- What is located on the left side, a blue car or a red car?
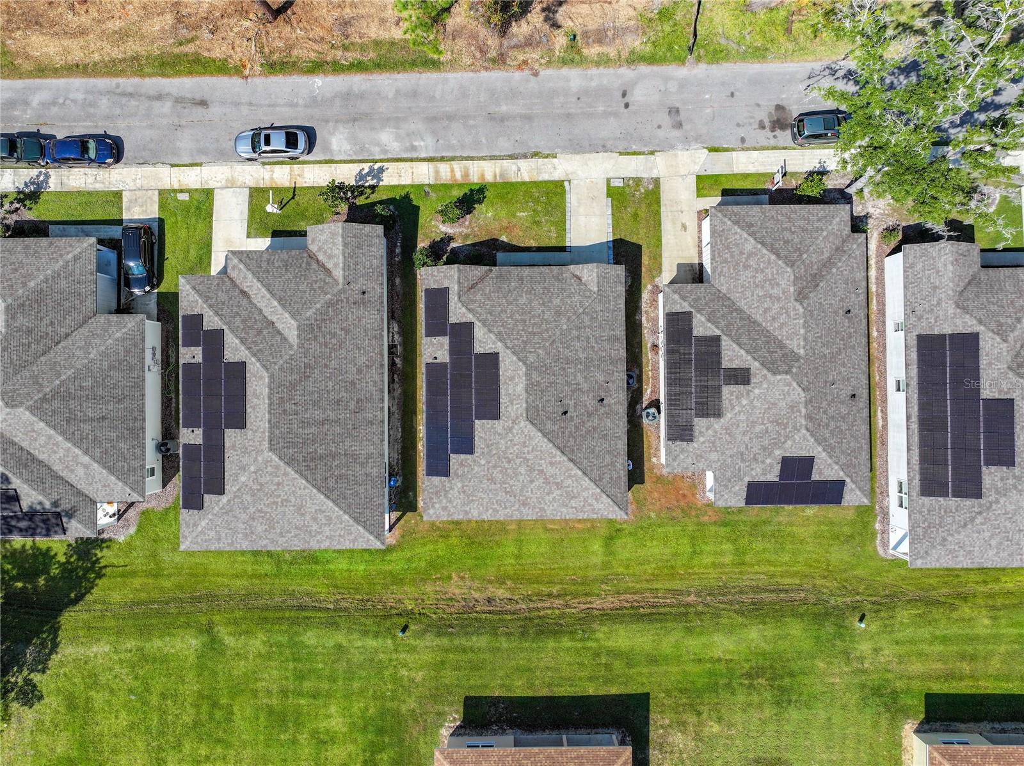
blue car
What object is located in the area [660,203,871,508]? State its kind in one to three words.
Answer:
house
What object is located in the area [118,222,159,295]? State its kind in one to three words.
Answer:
car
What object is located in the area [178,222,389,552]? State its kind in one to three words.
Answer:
house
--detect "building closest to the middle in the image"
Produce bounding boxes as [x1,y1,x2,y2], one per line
[420,263,629,521]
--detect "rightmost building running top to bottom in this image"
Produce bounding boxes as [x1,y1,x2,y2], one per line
[888,243,1024,570]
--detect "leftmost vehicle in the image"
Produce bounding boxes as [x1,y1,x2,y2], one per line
[0,132,46,167]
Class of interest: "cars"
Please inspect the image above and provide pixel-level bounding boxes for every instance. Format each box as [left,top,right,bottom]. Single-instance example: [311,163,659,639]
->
[43,135,120,169]
[0,132,46,167]
[787,116,854,152]
[235,126,311,162]
[118,222,159,295]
